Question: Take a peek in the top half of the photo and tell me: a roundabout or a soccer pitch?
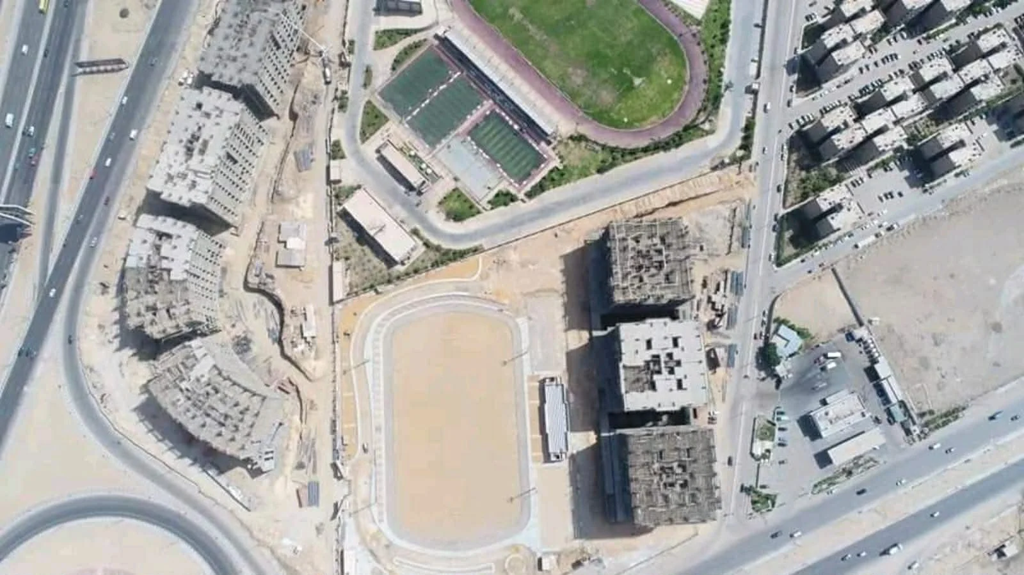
soccer pitch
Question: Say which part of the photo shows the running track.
top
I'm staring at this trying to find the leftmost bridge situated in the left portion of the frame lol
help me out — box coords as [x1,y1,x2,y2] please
[0,204,44,229]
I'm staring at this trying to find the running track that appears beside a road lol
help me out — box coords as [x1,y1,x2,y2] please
[450,0,704,145]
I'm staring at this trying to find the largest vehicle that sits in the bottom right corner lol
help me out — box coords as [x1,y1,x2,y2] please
[883,543,905,556]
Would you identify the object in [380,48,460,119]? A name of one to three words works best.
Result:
soccer field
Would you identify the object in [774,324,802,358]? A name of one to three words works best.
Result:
house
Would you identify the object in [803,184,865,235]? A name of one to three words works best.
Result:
building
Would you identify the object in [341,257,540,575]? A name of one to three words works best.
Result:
sports field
